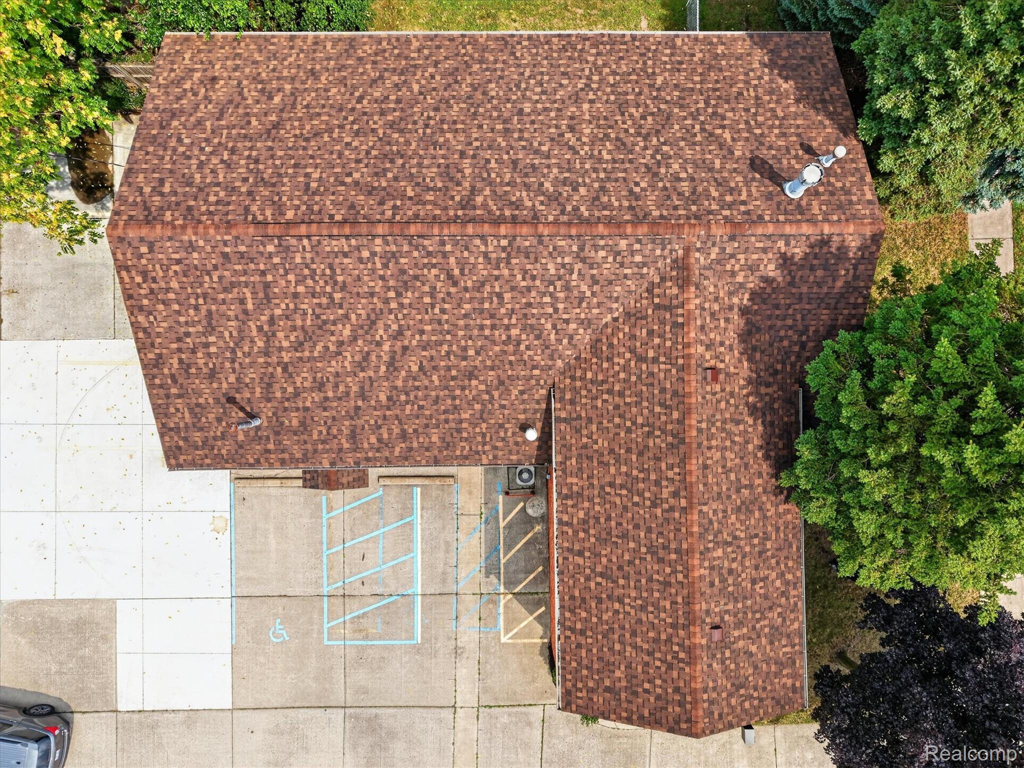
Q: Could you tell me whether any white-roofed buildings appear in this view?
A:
No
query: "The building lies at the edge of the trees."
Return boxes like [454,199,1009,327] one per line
[105,30,885,744]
